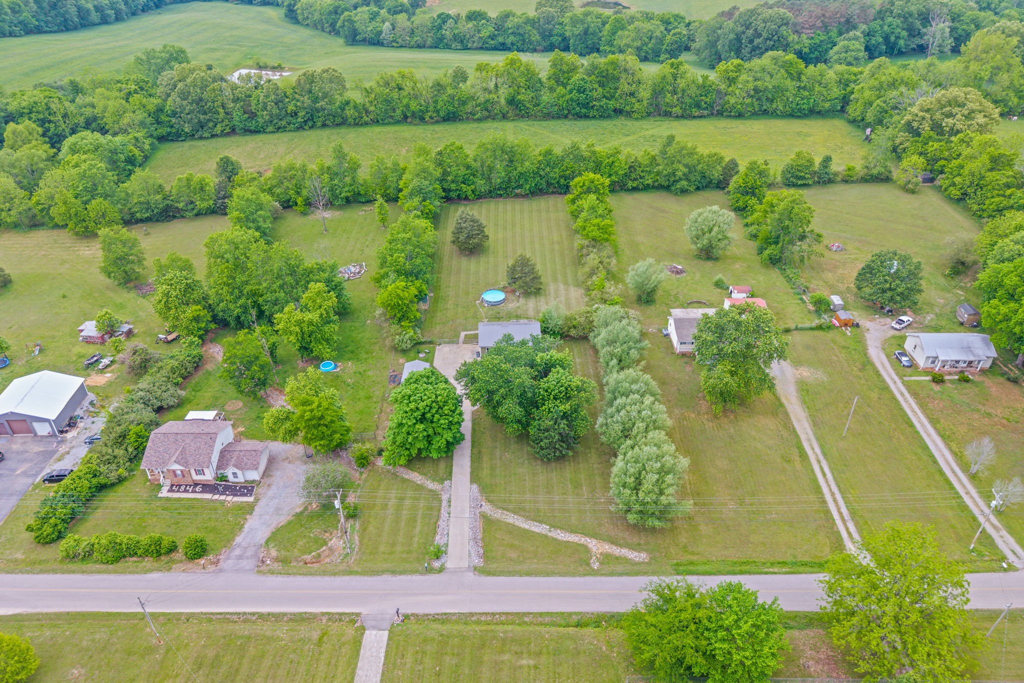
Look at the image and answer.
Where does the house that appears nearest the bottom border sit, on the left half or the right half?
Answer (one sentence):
The house that appears nearest the bottom border sits on the left side.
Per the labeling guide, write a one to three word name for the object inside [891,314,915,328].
vehicle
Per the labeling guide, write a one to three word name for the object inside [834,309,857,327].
shed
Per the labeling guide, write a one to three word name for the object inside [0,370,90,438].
building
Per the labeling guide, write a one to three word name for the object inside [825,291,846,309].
vehicle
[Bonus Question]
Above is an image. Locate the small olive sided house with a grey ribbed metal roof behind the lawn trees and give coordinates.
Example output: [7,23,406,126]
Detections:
[479,316,543,347]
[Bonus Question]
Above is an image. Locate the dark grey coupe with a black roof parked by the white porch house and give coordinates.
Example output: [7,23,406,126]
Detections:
[892,350,916,367]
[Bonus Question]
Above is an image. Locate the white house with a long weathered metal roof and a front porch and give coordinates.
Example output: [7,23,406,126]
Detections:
[901,332,998,374]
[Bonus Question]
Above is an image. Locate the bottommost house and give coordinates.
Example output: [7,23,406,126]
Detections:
[139,420,271,489]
